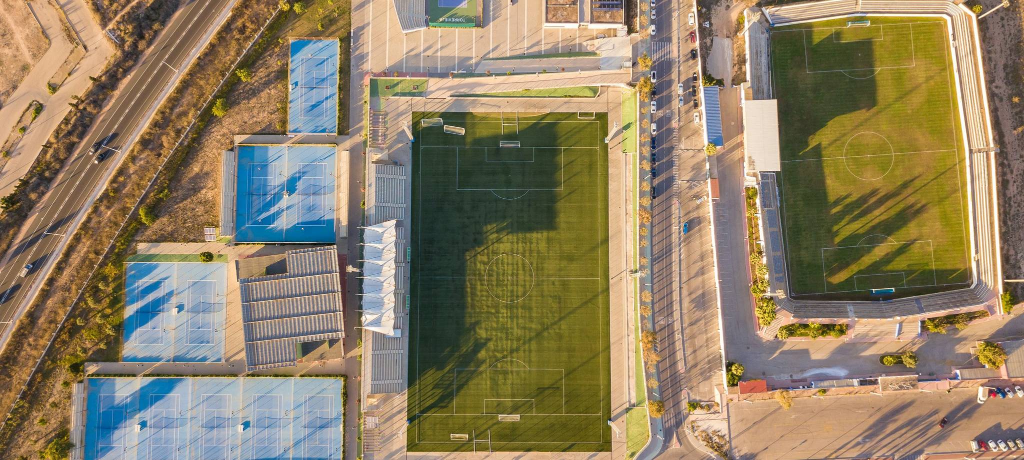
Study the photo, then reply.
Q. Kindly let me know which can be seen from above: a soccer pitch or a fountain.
soccer pitch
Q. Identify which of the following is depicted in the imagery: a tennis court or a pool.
tennis court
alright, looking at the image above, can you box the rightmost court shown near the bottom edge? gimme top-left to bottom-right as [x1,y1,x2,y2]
[292,378,343,460]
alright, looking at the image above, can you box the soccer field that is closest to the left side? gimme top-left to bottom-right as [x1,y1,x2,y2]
[407,112,611,452]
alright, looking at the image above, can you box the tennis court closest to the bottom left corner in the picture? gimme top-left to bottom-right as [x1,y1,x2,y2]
[84,378,139,460]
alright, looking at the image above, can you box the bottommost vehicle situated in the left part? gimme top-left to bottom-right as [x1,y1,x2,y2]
[18,263,32,277]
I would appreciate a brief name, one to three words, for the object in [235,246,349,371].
building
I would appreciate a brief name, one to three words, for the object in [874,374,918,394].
house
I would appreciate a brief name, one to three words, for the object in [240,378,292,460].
tennis court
